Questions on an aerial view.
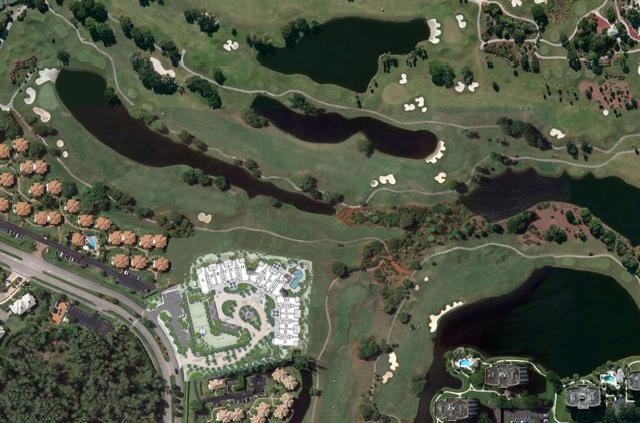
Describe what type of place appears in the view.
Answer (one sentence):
This looks like a golf course.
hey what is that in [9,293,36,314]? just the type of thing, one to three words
house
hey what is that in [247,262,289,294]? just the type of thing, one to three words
building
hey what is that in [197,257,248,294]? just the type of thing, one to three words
building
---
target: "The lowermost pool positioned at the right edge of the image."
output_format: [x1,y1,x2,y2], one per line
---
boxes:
[600,371,618,387]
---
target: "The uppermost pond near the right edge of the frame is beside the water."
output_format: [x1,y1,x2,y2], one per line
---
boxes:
[462,169,640,245]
